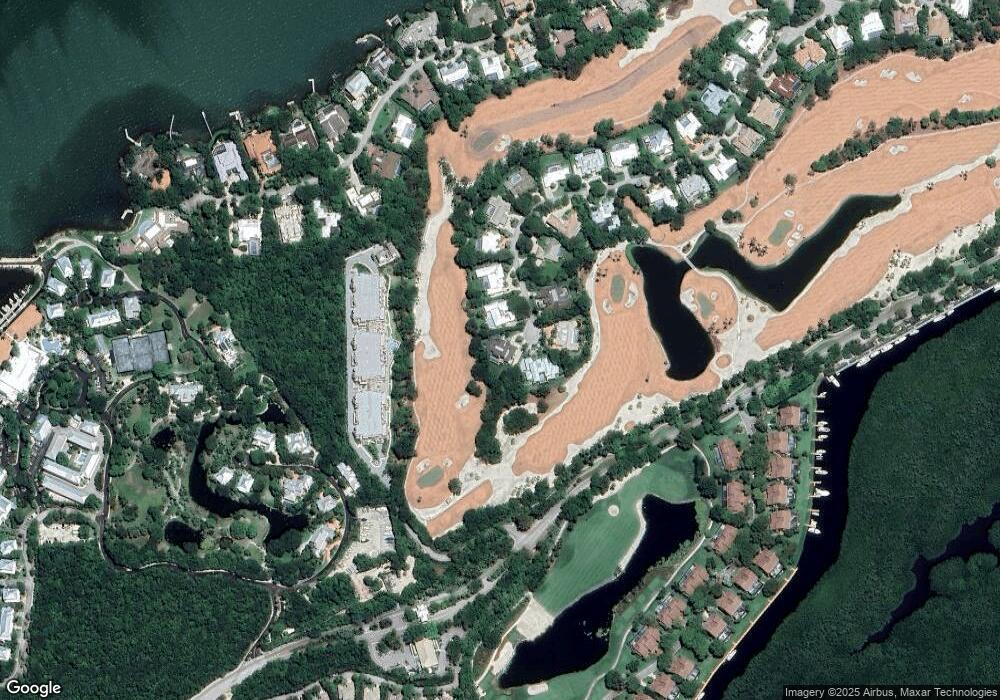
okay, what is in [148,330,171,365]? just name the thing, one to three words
tennis court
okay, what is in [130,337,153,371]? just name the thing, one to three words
tennis court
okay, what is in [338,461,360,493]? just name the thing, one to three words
house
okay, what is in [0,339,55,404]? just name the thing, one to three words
building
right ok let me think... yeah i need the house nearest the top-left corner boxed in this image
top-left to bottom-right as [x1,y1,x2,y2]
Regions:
[130,146,167,177]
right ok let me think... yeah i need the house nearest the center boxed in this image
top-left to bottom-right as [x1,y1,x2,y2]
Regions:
[483,332,522,364]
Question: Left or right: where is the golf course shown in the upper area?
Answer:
right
